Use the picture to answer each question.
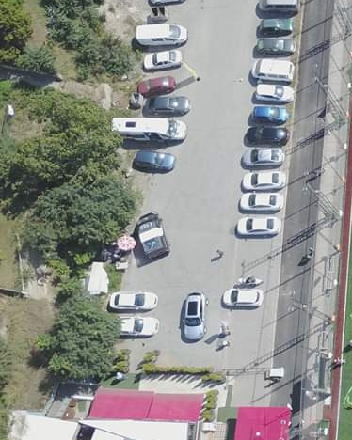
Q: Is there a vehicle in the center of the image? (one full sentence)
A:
Yes, the scene does show a vehicle in the center of the image.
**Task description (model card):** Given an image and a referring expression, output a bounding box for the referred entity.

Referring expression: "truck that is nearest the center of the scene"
[137,213,169,259]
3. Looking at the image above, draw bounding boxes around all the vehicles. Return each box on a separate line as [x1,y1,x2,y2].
[244,124,289,145]
[137,213,169,259]
[143,95,190,117]
[143,51,182,71]
[251,60,295,82]
[250,106,289,125]
[254,85,295,103]
[131,152,175,172]
[108,291,158,312]
[255,36,296,56]
[241,147,284,167]
[105,116,190,143]
[258,0,299,13]
[221,287,264,308]
[137,75,175,97]
[179,294,205,341]
[240,170,286,191]
[238,191,284,213]
[131,24,188,48]
[111,318,160,339]
[235,215,281,237]
[257,18,292,37]
[149,0,187,7]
